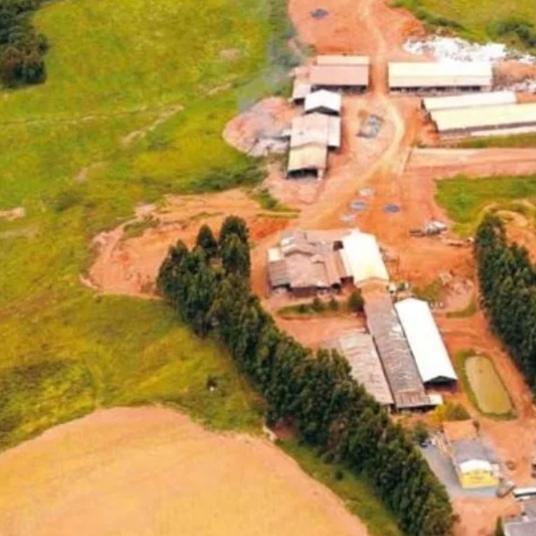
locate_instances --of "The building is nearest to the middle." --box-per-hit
[268,231,351,298]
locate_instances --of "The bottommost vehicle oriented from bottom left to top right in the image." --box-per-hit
[496,477,516,498]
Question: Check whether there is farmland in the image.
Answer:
Yes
